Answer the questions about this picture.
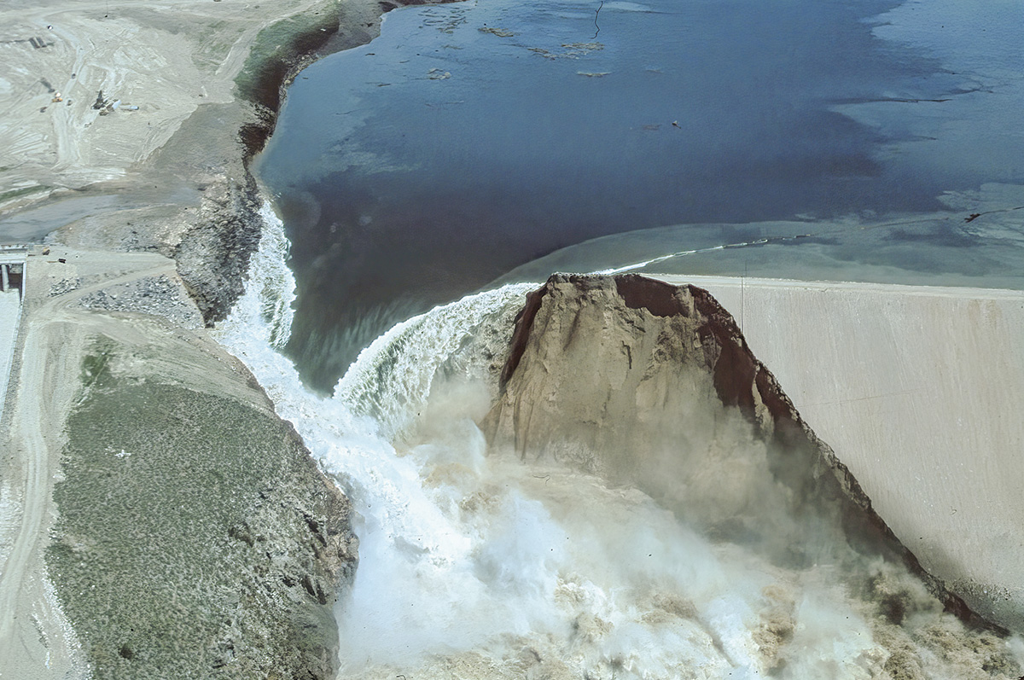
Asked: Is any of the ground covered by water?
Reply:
Yes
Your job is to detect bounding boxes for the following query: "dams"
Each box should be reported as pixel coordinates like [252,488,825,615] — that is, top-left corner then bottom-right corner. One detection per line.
[483,269,1024,647]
